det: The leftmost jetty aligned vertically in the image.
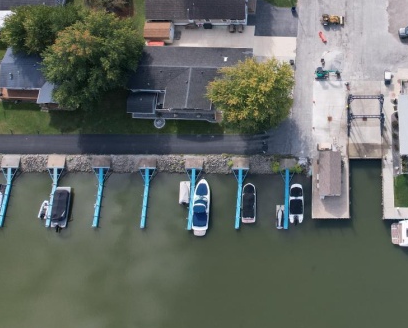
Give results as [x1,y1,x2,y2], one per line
[0,156,22,227]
